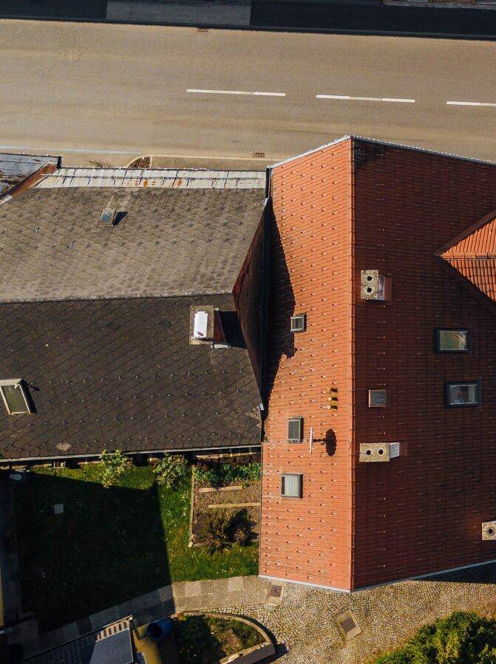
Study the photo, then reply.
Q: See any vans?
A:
No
